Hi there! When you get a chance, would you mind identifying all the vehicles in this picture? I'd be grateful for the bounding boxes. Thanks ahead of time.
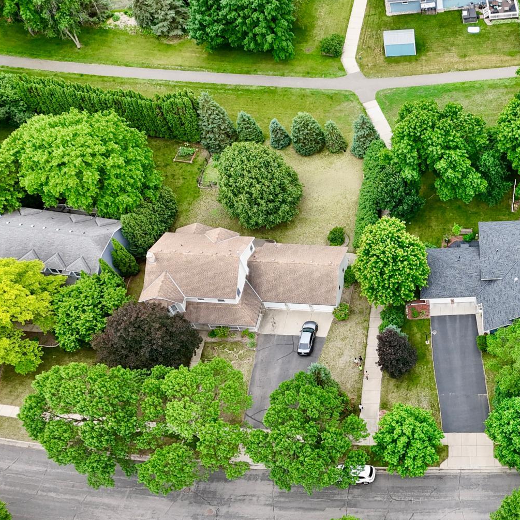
[340,469,375,485]
[295,321,317,356]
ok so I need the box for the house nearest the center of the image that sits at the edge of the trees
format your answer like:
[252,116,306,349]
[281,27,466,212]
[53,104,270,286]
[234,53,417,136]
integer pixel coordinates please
[139,217,349,334]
